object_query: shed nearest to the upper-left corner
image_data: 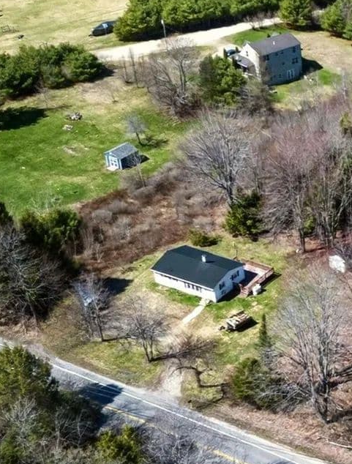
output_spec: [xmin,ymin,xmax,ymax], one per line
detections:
[102,140,140,171]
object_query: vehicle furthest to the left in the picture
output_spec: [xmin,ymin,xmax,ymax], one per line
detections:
[91,24,117,37]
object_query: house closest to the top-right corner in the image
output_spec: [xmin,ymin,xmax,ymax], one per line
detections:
[232,32,301,87]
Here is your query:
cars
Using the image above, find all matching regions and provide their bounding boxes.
[222,49,239,58]
[91,24,117,37]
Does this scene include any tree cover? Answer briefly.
Yes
